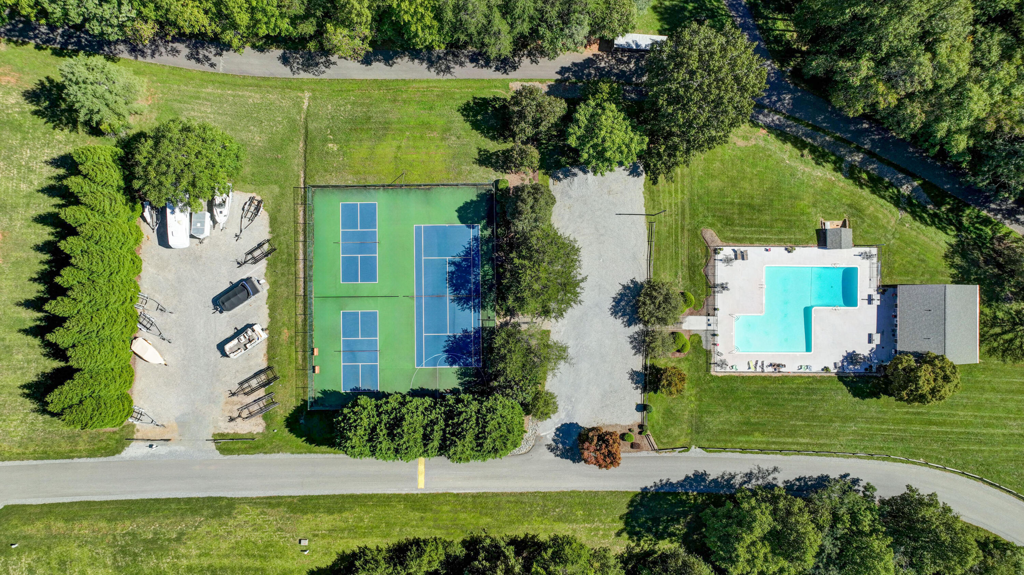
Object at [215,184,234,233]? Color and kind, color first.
white boat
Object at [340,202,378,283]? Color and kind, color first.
blue sports court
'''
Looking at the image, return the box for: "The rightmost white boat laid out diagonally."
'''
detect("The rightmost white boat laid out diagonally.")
[223,324,268,358]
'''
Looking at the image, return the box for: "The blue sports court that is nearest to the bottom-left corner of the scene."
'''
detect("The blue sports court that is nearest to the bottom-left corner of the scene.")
[341,310,379,392]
